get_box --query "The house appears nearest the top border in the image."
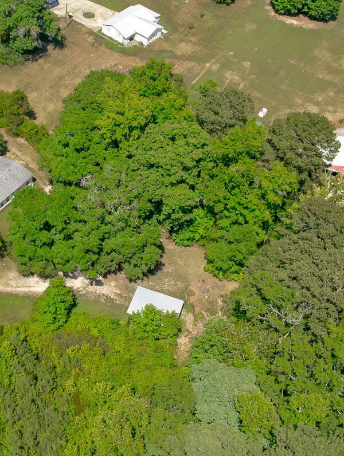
[92,6,165,52]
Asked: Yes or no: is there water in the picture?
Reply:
No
